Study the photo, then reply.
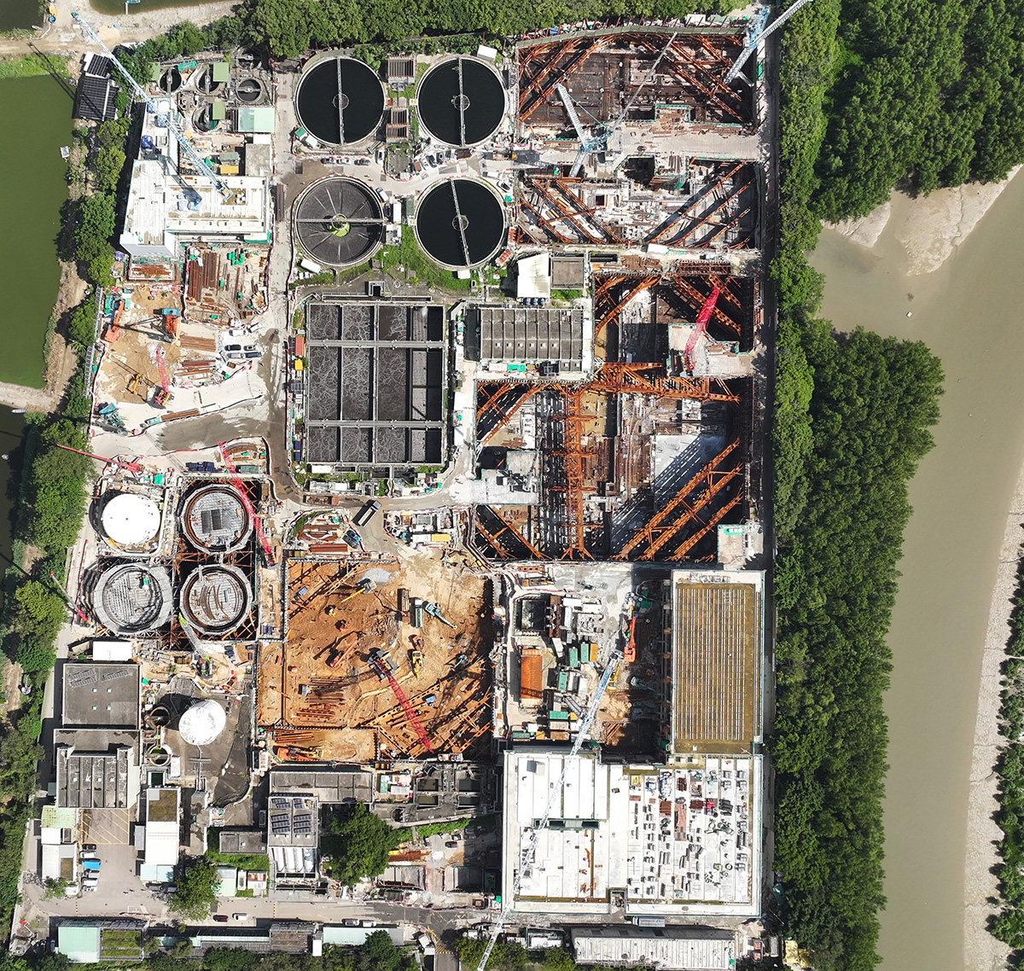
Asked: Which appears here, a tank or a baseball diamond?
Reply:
tank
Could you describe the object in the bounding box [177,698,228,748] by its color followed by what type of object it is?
white storage tank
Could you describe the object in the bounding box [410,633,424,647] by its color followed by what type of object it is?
red work vehicle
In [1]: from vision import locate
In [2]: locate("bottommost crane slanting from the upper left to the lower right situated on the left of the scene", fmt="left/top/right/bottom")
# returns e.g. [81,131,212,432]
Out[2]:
[367,649,436,753]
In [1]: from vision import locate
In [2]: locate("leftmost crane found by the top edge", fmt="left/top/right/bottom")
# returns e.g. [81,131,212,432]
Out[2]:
[73,12,232,206]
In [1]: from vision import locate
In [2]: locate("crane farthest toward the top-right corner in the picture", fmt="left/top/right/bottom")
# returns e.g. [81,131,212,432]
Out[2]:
[720,0,820,86]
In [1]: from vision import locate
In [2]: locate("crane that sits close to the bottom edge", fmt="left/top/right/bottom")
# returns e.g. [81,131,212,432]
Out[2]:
[470,638,632,971]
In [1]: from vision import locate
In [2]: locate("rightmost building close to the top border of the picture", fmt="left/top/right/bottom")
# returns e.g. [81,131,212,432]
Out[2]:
[476,45,498,65]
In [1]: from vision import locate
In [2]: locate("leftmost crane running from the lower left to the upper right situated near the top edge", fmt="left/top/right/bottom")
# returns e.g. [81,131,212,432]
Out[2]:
[554,29,679,180]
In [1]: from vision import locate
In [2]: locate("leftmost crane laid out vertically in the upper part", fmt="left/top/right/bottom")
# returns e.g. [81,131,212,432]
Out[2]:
[151,344,171,409]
